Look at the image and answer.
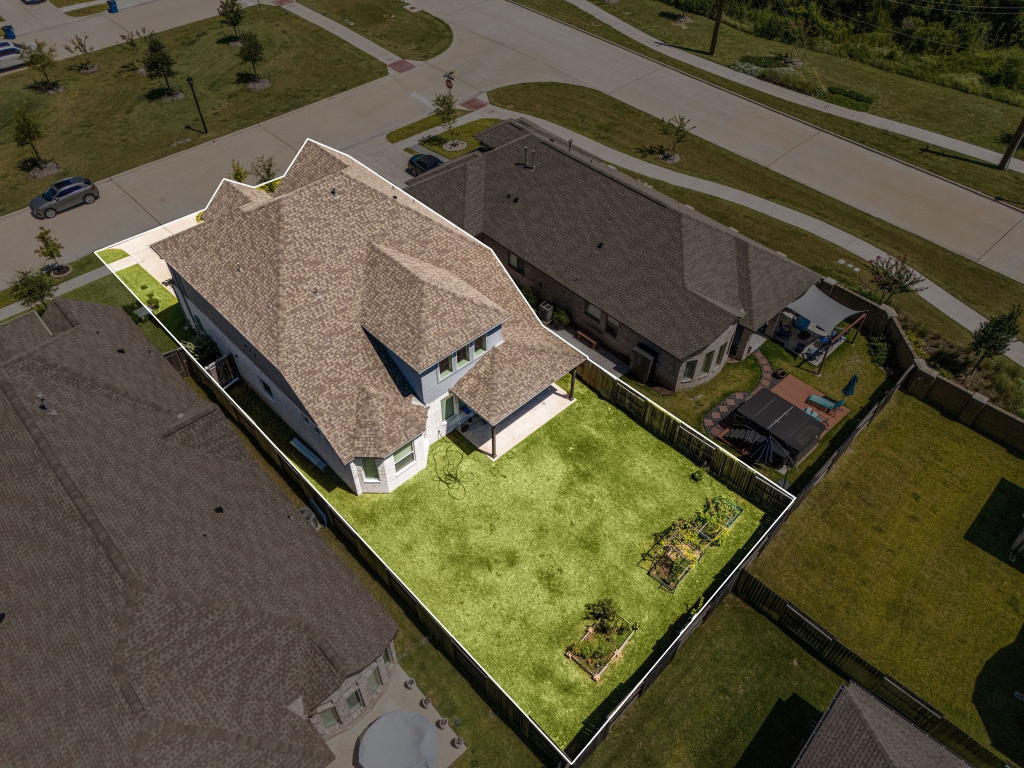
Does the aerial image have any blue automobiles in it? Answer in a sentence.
No, I find no blue automobile anywhere in the image.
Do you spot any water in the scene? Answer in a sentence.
No, there is no water in the image.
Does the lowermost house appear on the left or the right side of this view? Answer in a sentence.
The lowermost house is on the right side of the image.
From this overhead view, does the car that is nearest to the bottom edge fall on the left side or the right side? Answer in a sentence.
You can find the car that is nearest to the bottom edge on the left side of the picture.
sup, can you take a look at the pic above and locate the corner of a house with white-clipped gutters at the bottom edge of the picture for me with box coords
[779,679,964,768]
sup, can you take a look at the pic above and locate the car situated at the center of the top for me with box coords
[407,149,449,174]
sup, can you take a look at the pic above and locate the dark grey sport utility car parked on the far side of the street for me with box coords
[27,174,99,219]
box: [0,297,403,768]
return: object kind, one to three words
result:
house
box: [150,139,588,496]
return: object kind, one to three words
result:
house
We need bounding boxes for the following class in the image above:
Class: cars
[407,149,449,174]
[0,56,21,72]
[27,174,99,219]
